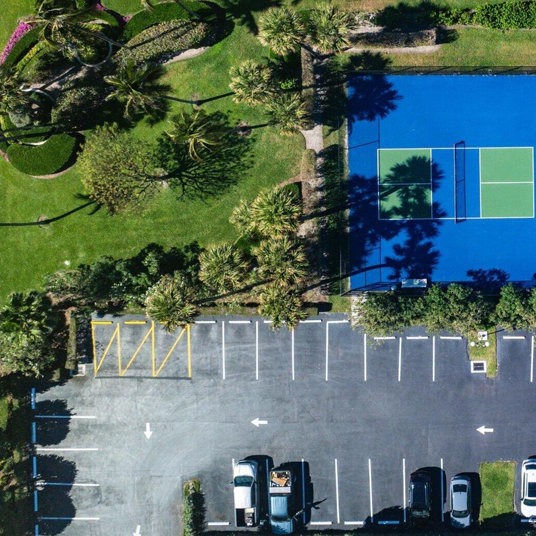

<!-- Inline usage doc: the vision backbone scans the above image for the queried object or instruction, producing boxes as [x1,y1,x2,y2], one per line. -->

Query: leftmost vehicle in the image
[229,458,260,529]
